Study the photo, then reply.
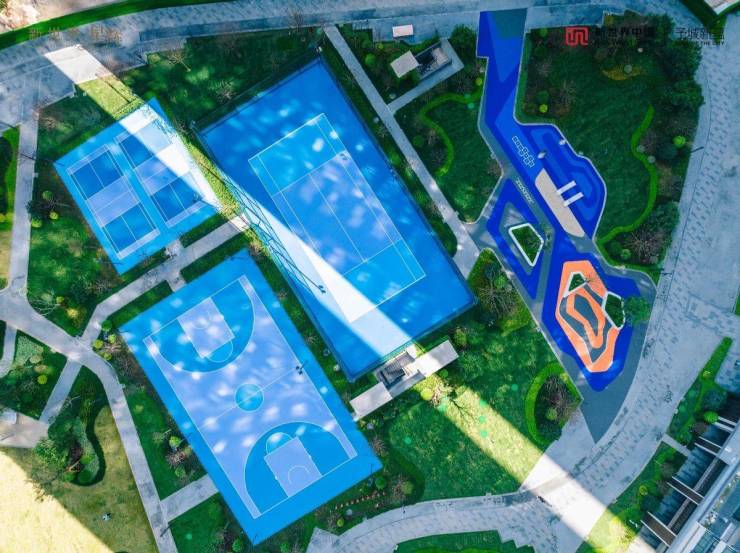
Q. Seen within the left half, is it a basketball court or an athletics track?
basketball court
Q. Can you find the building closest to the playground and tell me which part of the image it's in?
top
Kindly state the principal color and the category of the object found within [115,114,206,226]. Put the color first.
blue sports court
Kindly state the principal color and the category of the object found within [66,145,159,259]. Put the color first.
blue sports court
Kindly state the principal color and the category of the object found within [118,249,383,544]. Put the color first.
blue basketball court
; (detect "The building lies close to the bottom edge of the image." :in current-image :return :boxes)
[637,398,740,553]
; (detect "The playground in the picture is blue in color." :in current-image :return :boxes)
[464,7,657,444]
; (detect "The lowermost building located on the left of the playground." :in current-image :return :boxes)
[350,340,458,418]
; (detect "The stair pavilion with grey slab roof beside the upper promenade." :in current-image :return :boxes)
[391,42,453,83]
